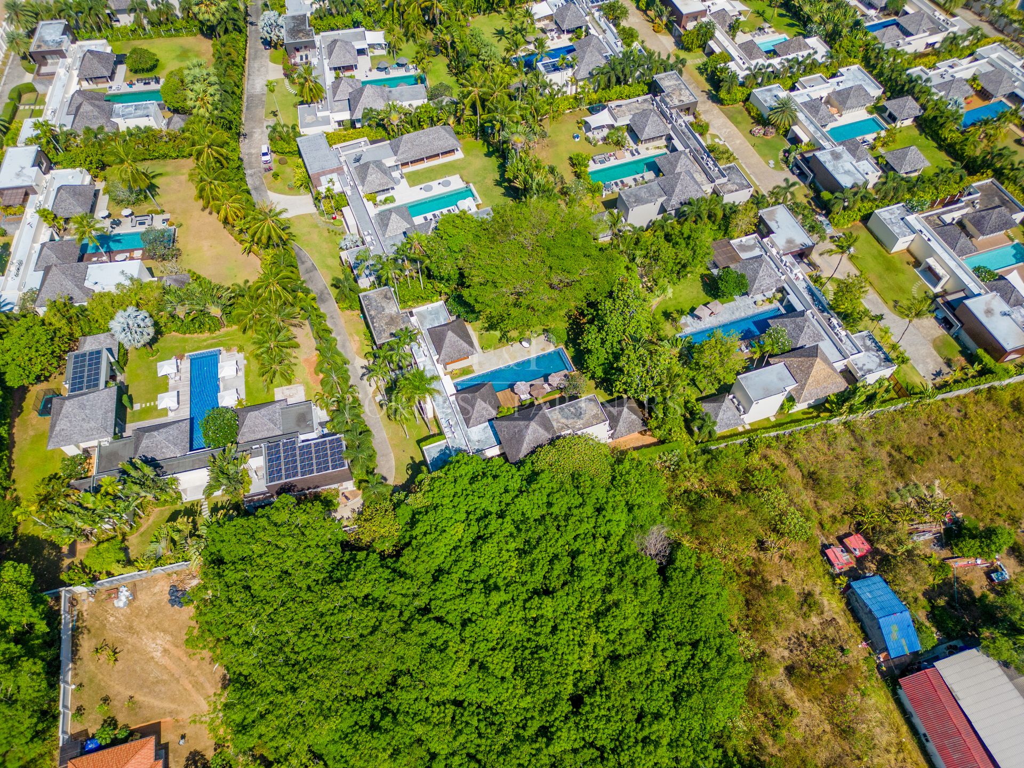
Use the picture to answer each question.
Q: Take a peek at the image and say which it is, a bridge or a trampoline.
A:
trampoline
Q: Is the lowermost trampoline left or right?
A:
left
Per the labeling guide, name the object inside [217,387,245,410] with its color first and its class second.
white umbrella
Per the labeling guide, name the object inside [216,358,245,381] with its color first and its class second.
white umbrella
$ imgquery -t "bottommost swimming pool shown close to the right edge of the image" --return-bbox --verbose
[962,240,1024,274]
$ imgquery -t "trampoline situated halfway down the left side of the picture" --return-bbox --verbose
[29,387,65,421]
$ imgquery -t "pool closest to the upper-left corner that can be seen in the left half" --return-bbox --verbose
[107,89,164,104]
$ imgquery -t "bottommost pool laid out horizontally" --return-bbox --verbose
[452,345,582,400]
